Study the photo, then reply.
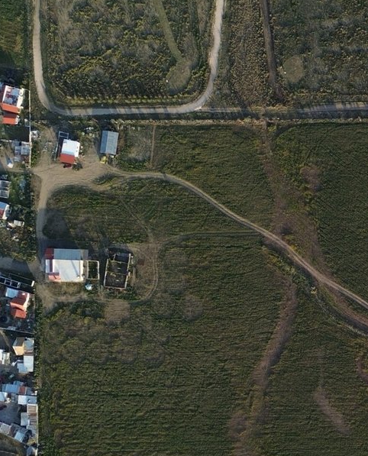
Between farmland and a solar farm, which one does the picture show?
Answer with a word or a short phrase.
farmland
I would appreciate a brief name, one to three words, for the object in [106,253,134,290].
house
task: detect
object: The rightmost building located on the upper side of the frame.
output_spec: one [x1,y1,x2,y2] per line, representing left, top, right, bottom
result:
[99,130,122,156]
